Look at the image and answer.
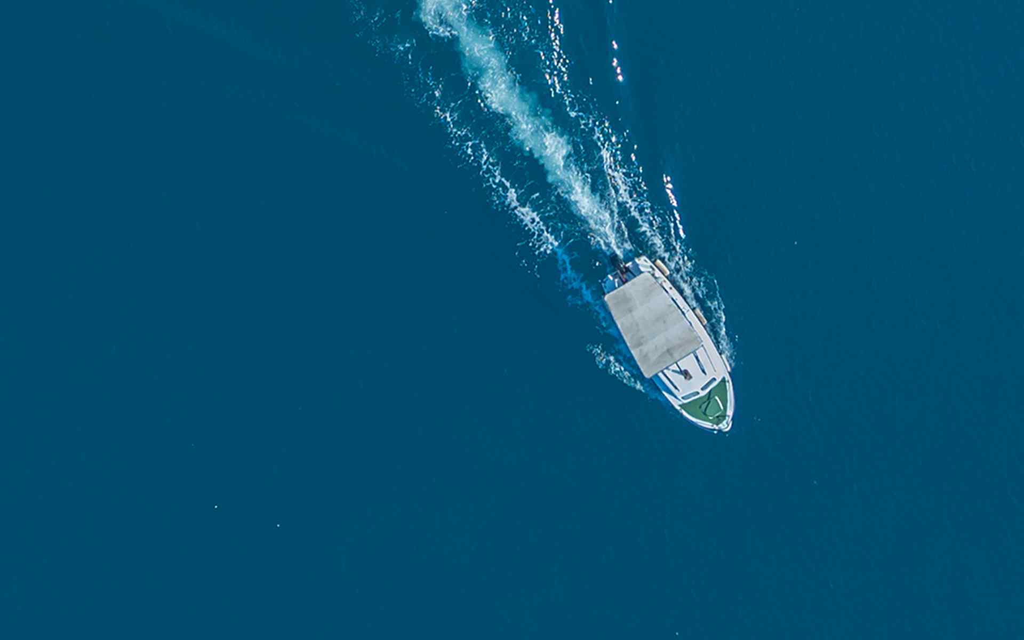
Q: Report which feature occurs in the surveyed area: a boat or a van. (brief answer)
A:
boat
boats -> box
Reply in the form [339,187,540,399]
[602,256,736,433]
